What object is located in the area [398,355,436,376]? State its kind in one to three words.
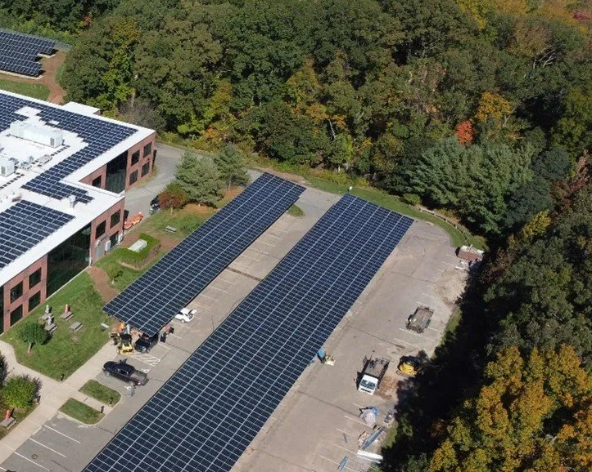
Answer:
work vehicle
